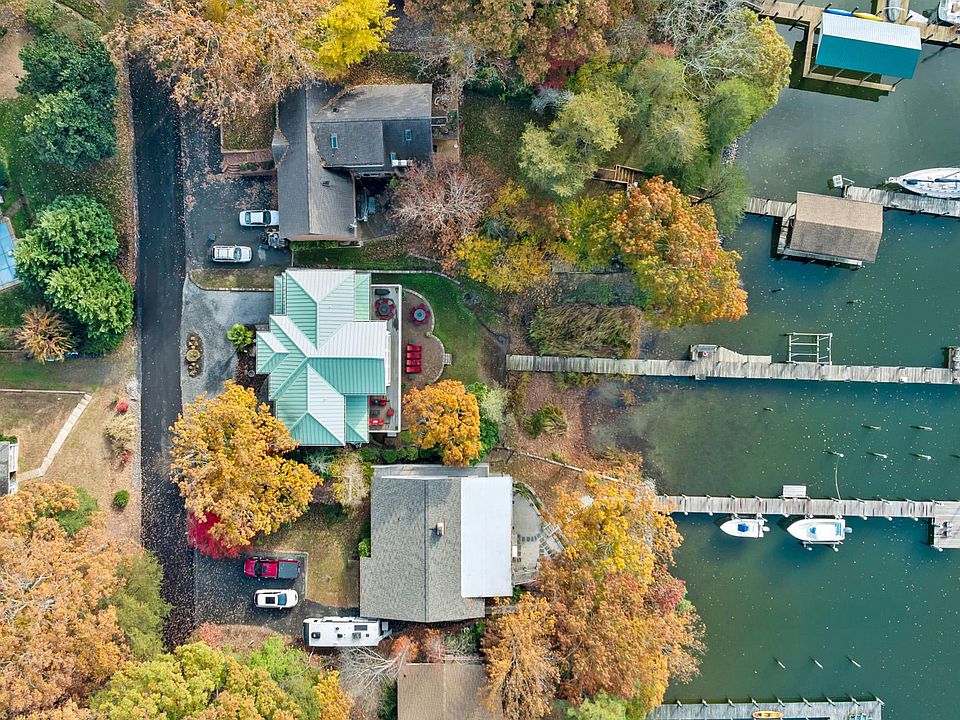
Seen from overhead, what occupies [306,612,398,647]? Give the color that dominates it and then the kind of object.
white trailer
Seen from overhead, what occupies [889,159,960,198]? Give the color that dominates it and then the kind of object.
white boat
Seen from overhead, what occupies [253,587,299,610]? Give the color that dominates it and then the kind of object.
white car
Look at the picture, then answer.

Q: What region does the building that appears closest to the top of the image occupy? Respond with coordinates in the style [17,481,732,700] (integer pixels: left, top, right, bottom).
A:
[802,12,922,86]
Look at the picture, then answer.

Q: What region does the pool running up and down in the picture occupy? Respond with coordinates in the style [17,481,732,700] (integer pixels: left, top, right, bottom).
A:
[0,213,24,287]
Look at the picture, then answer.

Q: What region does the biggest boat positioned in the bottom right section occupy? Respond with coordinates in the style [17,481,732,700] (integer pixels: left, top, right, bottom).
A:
[785,518,854,541]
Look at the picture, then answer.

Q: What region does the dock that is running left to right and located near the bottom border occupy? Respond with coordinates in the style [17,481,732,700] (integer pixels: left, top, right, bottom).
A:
[640,694,886,720]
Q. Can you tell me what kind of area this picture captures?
residential area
